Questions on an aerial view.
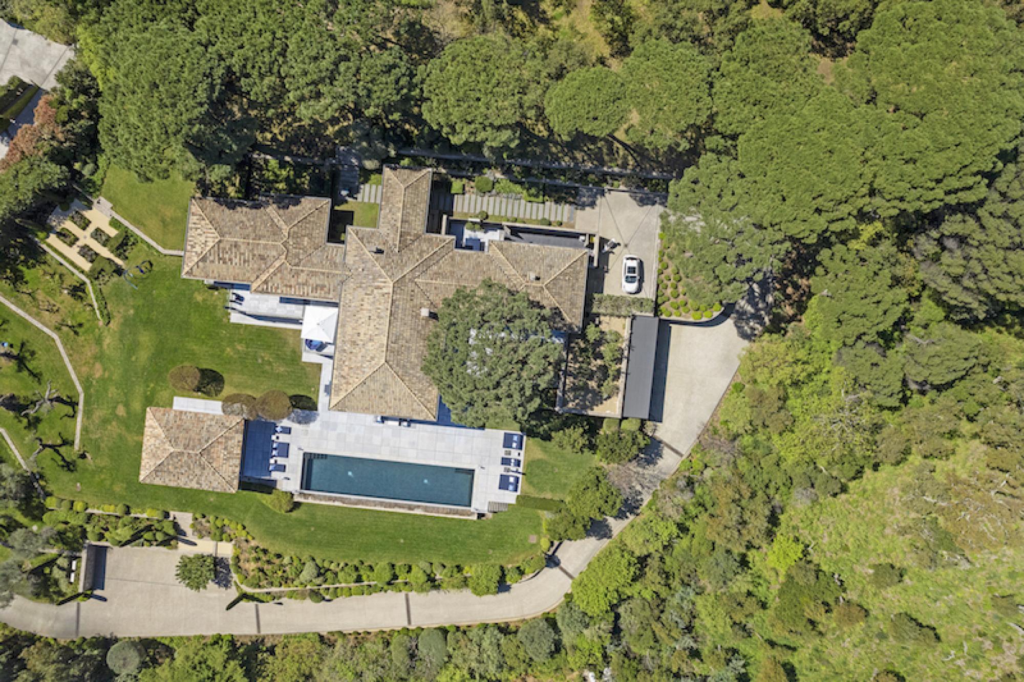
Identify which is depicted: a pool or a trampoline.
pool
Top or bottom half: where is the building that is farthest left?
bottom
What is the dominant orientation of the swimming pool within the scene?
from left to right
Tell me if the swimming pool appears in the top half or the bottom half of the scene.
bottom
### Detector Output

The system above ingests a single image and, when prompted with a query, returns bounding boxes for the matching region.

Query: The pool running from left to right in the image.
[295,453,478,519]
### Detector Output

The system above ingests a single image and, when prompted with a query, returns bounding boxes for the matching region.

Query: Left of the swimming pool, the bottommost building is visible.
[139,407,250,493]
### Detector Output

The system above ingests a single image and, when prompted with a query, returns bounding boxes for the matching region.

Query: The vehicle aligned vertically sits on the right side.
[624,256,643,293]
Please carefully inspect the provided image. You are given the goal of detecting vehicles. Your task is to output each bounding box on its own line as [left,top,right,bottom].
[624,256,643,293]
[603,239,615,250]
